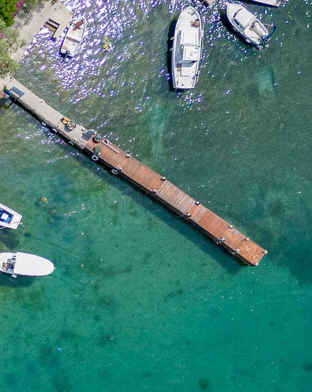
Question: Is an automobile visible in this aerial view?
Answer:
No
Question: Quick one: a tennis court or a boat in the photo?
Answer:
boat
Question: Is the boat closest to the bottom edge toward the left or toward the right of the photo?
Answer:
left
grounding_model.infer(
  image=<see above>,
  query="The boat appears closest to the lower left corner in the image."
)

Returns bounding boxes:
[0,249,60,277]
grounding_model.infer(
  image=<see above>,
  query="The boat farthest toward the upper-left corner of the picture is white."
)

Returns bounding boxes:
[59,16,87,65]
